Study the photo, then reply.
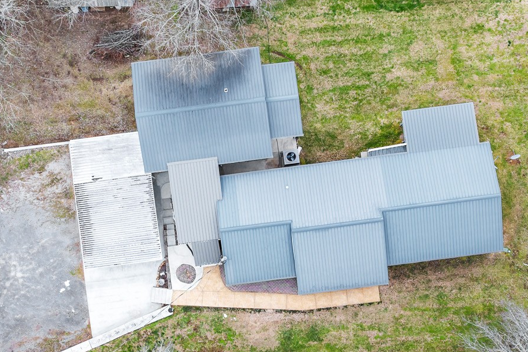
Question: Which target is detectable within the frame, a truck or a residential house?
residential house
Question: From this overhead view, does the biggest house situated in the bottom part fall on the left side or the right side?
right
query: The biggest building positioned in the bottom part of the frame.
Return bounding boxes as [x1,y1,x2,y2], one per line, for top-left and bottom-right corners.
[218,142,513,295]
